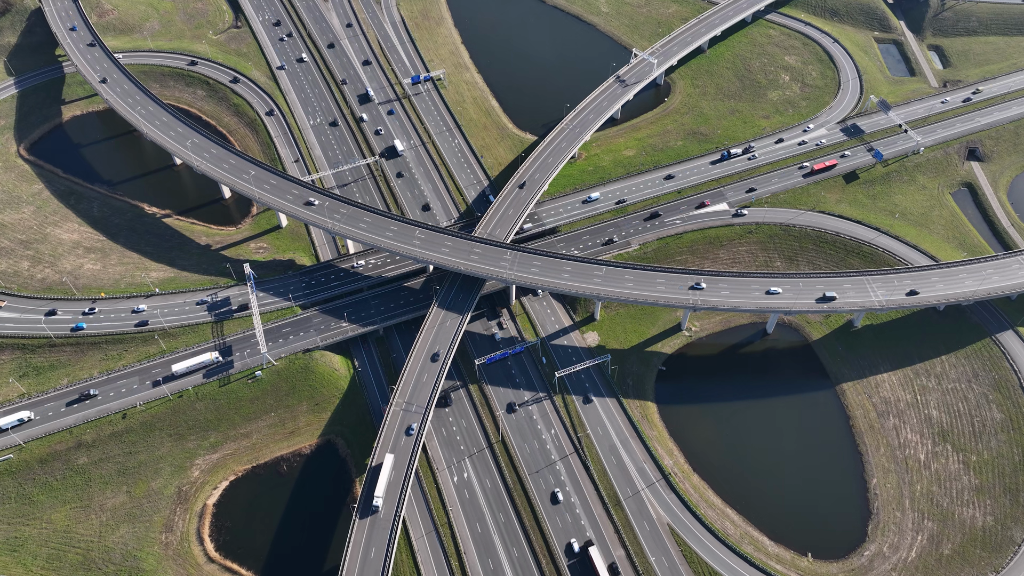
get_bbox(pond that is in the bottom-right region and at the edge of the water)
[656,322,868,560]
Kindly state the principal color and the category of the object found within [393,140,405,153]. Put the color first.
white vehicle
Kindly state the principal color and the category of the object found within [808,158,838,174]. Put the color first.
red vehicle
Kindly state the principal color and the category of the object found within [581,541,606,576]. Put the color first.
white truck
